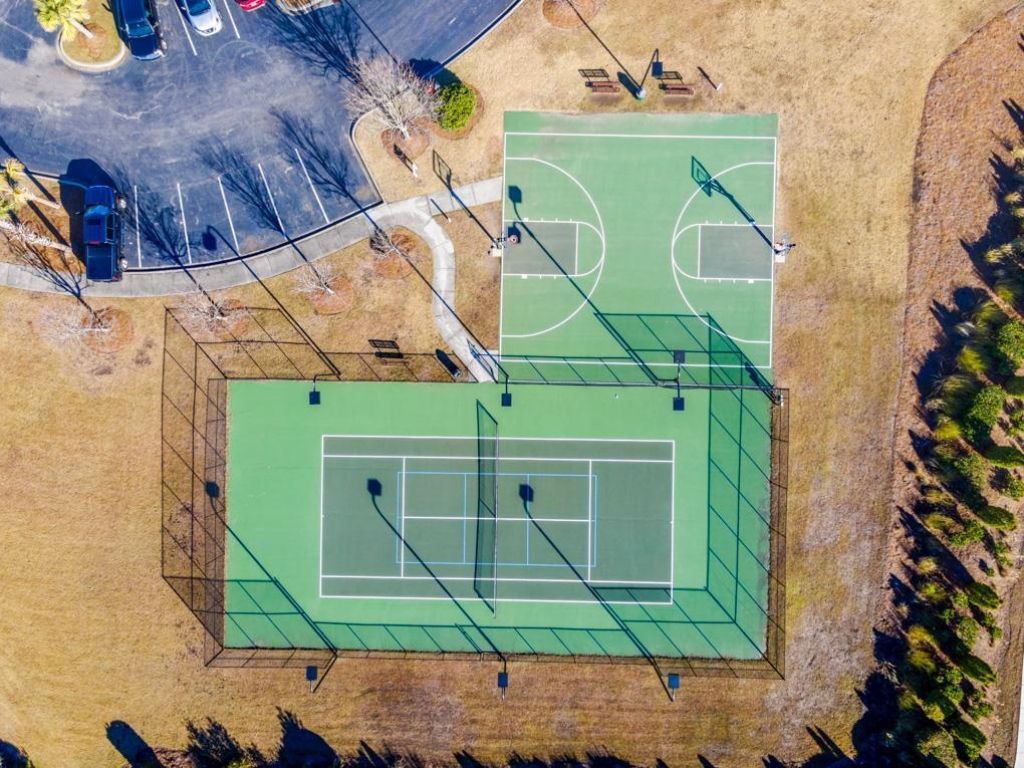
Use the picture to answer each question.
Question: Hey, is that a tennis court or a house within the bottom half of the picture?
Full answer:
The one visible within the bottom half of the picture is a tennis court.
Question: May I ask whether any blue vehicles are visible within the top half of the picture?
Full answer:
Yes, I can see a blue vehicle within the top half of the picture.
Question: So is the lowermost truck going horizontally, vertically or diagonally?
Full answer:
The lowermost truck runs vertically in the image.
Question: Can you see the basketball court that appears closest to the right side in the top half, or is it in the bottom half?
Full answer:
The top half of the photo is where the basketball court that appears closest to the right side is.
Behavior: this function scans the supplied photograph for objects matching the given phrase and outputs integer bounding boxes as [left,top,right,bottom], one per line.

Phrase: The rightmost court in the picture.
[499,110,778,383]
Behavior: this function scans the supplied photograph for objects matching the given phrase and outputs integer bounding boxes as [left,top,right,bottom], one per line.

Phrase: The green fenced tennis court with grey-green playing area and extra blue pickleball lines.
[225,380,771,660]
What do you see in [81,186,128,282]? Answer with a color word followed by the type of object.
blue truck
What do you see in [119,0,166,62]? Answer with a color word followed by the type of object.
blue car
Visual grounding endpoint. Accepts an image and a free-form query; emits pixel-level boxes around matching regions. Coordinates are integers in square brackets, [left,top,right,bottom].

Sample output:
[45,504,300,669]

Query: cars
[181,0,222,38]
[235,0,266,14]
[119,0,166,62]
